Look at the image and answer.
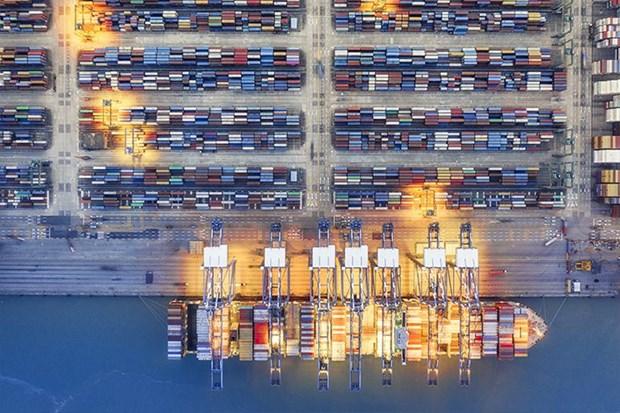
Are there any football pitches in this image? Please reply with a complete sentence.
No, the picture doesn't show any football pitch.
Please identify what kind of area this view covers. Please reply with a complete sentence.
This looks like a port.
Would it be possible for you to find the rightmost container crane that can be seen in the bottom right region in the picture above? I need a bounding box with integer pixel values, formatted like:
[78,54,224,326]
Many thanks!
[440,222,482,387]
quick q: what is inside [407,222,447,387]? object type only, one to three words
container crane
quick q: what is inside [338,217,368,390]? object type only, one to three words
container crane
